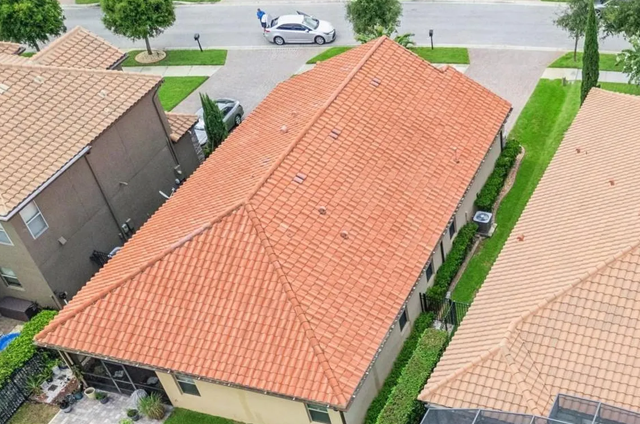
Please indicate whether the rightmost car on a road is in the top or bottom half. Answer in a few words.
top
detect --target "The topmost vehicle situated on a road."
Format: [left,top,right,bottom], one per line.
[260,3,338,43]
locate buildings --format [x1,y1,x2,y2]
[419,82,640,424]
[32,33,515,424]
